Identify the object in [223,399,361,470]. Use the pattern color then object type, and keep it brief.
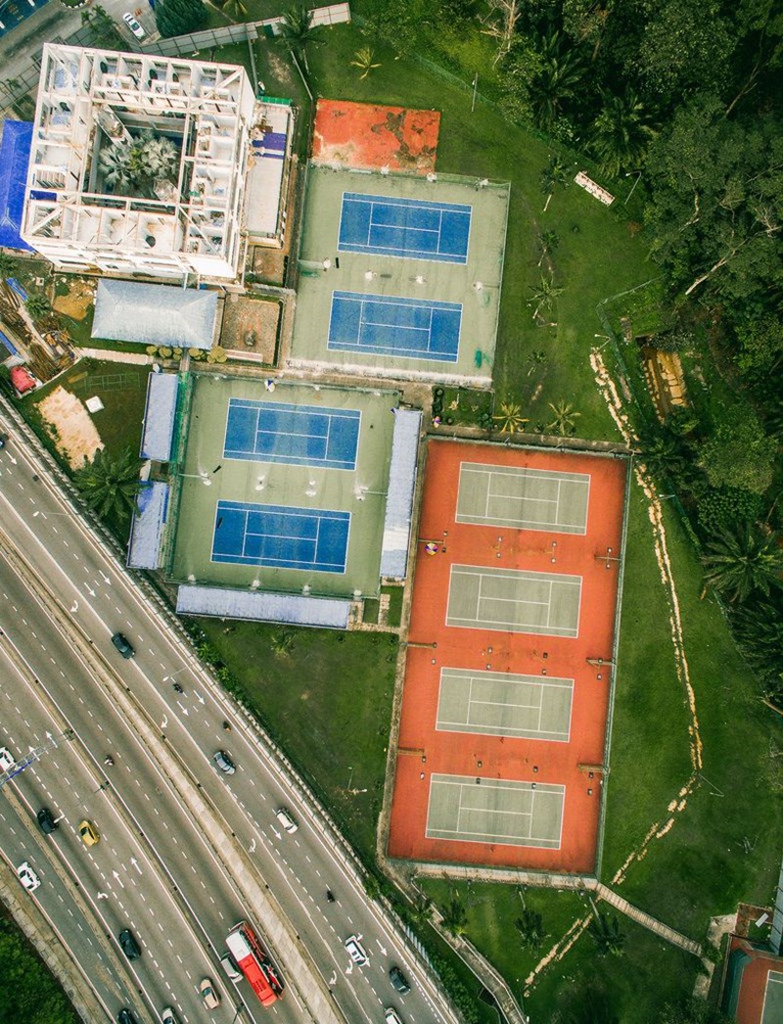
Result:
blue tennis court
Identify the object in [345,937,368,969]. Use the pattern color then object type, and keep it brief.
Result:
white car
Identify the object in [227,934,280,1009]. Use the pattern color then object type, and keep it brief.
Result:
red bus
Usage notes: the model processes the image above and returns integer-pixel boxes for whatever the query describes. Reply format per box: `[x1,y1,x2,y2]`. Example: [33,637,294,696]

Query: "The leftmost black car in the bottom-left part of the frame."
[35,807,55,837]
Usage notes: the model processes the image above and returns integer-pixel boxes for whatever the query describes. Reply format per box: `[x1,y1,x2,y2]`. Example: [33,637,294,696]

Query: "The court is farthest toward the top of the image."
[337,193,473,263]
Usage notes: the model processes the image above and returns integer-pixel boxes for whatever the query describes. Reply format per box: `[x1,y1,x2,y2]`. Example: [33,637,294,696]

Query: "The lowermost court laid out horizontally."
[425,773,566,851]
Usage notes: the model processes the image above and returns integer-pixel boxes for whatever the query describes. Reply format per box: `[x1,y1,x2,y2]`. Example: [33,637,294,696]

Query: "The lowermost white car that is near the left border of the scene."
[16,863,37,892]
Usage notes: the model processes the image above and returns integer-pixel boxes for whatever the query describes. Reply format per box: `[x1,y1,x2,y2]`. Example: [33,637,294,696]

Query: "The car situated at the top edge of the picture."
[121,8,144,36]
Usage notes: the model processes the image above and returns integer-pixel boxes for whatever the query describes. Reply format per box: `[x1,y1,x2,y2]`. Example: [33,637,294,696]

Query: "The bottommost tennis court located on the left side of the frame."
[212,500,351,574]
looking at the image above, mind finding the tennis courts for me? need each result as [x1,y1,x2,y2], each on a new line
[455,462,591,535]
[212,500,351,574]
[425,773,566,851]
[223,399,361,470]
[761,971,783,1024]
[445,564,583,638]
[326,291,463,362]
[436,667,574,743]
[337,193,473,263]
